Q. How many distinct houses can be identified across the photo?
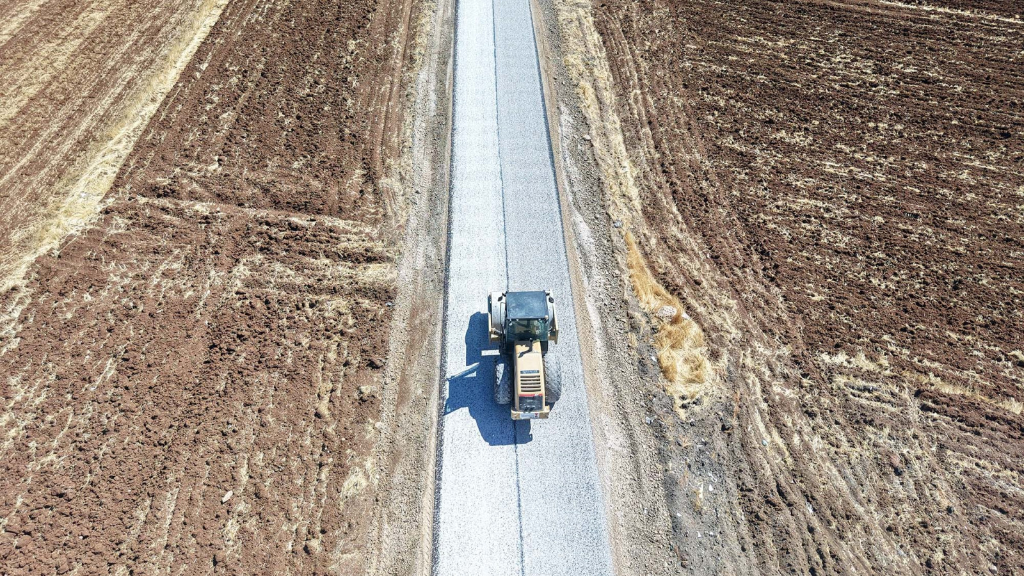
0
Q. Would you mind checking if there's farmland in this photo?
Yes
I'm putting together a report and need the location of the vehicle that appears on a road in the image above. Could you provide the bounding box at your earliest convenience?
[490,287,562,421]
